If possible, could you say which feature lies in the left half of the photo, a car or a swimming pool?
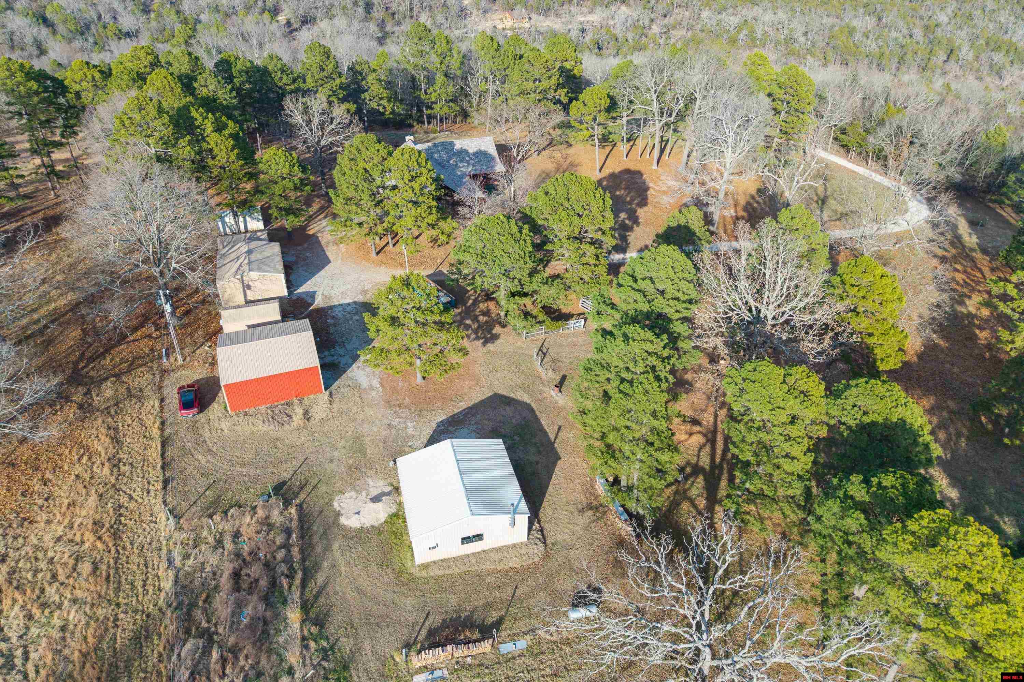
car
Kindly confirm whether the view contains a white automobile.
No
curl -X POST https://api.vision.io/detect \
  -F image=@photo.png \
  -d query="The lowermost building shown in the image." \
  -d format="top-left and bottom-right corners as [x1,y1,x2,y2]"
[394,437,532,567]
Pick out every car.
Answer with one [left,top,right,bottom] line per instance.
[174,381,204,424]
